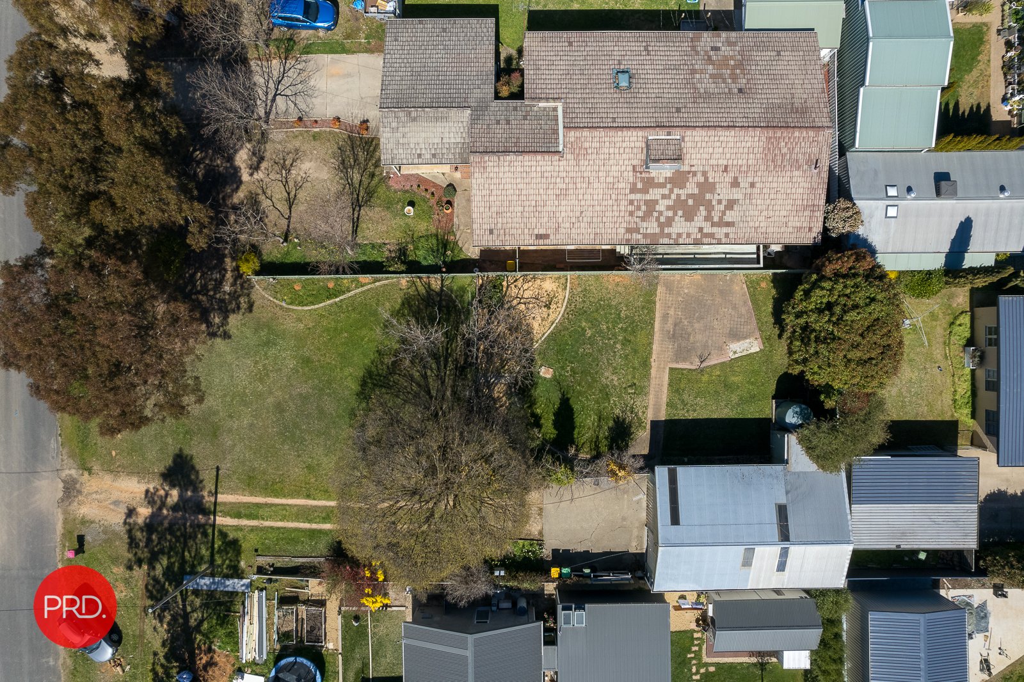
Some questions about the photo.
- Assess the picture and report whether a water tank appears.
Yes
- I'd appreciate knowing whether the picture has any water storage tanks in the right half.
Yes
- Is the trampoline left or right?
left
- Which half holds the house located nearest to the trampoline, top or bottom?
bottom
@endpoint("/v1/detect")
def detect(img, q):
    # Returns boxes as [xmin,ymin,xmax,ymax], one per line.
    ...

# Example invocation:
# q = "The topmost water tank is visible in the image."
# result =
[776,399,813,431]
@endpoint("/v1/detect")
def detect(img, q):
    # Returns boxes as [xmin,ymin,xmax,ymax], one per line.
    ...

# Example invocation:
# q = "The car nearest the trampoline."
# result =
[53,599,115,657]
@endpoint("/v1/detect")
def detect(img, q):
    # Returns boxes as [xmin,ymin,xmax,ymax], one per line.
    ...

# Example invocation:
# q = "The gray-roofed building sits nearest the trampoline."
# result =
[401,610,544,682]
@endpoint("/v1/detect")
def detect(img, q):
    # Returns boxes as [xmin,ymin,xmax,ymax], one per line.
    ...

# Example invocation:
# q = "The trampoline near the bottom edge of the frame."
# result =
[265,651,323,682]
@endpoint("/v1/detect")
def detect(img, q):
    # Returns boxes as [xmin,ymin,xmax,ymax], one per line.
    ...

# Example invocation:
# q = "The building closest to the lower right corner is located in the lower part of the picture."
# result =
[846,595,969,682]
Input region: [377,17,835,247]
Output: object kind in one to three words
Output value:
house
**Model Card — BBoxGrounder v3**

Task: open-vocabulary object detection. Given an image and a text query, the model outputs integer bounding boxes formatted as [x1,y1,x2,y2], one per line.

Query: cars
[270,0,339,33]
[53,599,115,657]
